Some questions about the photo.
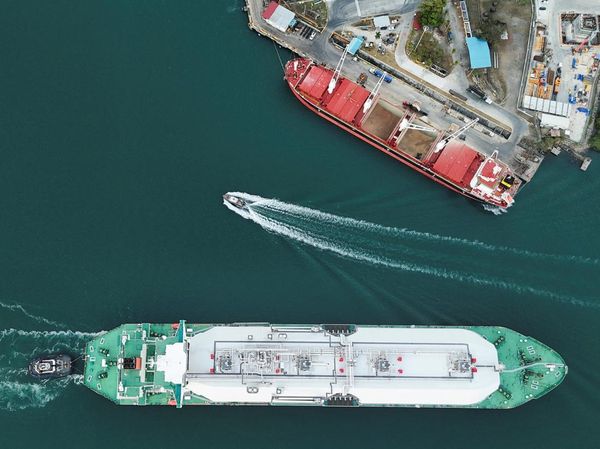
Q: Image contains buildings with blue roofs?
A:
Yes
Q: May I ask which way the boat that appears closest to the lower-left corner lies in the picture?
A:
horizontally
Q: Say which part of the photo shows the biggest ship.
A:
bottom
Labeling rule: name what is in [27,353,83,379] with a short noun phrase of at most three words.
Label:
boat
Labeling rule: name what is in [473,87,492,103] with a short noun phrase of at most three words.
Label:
vehicle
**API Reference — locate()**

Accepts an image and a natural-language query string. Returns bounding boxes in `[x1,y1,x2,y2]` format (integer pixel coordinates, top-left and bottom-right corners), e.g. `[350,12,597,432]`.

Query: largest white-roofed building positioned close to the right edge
[540,114,571,129]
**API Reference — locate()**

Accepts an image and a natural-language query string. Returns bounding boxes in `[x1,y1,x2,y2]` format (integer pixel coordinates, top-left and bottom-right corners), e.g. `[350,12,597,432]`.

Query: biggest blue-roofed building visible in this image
[466,36,491,69]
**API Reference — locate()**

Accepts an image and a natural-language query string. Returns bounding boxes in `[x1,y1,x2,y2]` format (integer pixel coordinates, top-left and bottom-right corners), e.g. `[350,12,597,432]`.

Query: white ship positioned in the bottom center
[84,320,569,410]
